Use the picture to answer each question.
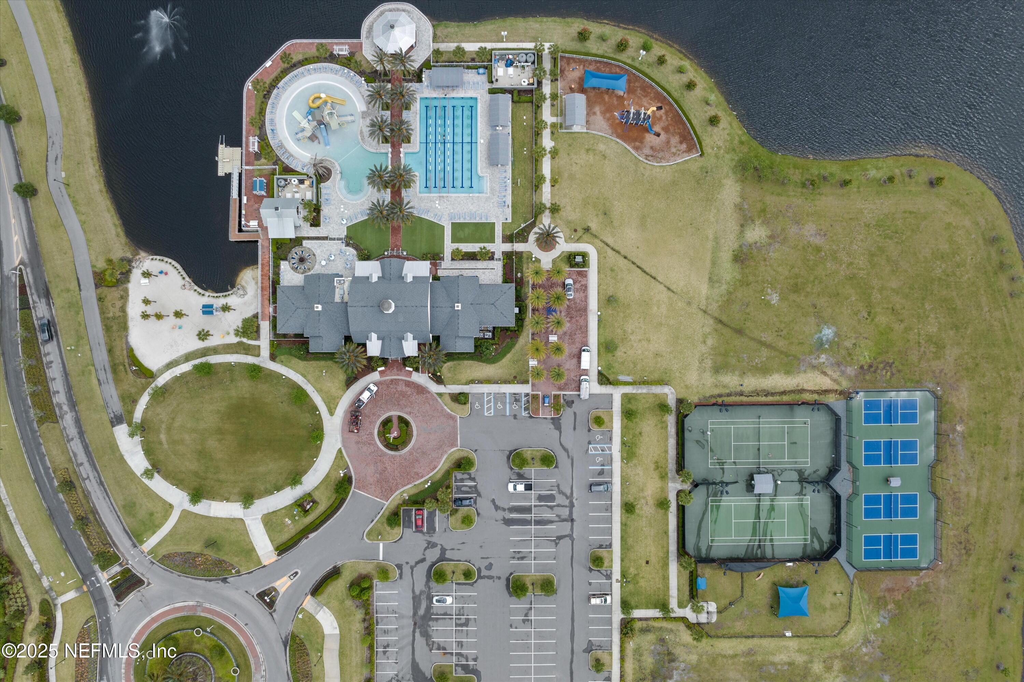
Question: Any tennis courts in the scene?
Yes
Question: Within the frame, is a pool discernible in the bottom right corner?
No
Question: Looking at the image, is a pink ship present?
No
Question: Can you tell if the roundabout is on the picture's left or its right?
left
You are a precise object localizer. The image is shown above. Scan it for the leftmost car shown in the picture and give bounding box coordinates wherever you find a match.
[39,319,51,340]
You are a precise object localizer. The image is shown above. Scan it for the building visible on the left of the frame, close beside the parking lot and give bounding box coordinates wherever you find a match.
[277,257,519,362]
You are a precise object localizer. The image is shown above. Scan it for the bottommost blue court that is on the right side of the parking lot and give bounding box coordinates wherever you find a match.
[863,533,919,563]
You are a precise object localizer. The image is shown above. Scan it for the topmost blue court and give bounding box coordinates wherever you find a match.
[863,397,919,426]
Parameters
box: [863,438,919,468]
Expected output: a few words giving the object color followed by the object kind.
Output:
blue sports court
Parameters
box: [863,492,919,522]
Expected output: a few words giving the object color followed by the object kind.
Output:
blue sports court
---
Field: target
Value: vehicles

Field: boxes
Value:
[579,376,589,400]
[589,594,612,605]
[433,595,453,605]
[416,509,424,529]
[39,319,51,340]
[454,497,475,507]
[508,482,533,491]
[590,483,611,492]
[580,346,590,369]
[564,278,574,299]
[543,395,549,405]
[356,384,376,408]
